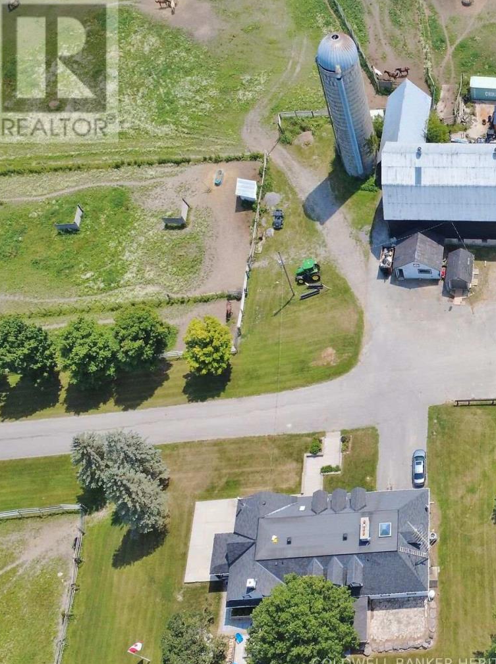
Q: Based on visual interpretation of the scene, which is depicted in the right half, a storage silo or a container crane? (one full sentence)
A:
You can see a storage silo in the right half.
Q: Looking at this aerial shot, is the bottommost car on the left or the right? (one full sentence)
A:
The bottommost car sits on the right side.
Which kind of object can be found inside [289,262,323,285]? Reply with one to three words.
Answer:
work vehicle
